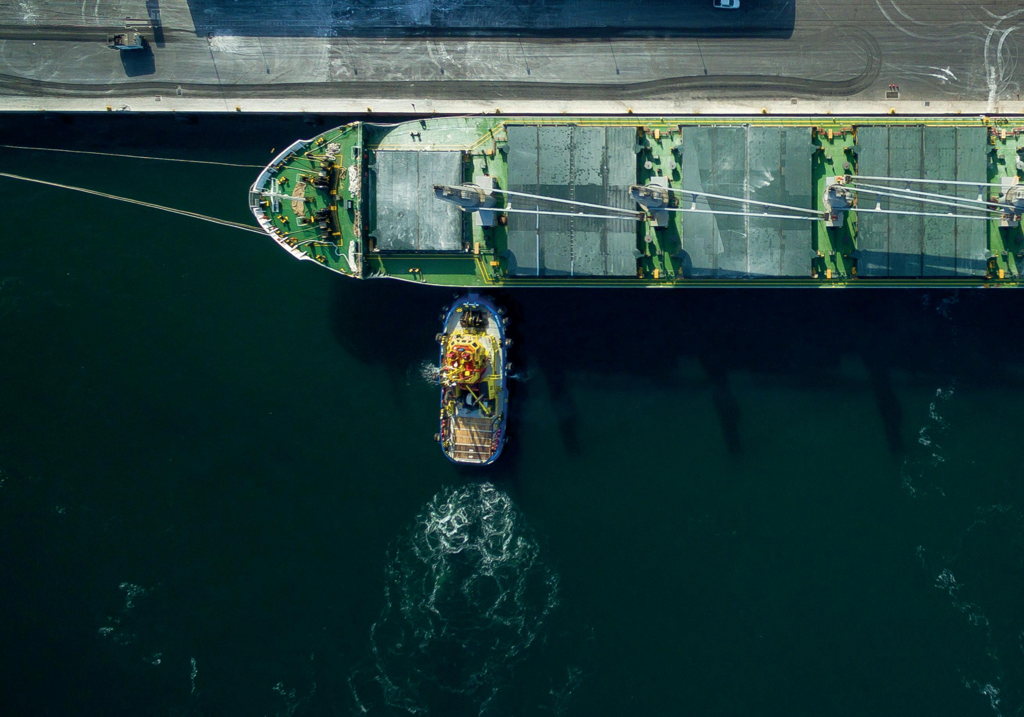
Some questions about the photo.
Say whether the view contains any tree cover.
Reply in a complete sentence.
No, tree cover can't be seen anywhere here.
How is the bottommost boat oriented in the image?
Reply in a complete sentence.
The bottommost boat is laid out from top to bottom.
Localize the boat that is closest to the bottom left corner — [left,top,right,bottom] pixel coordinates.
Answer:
[436,292,512,465]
